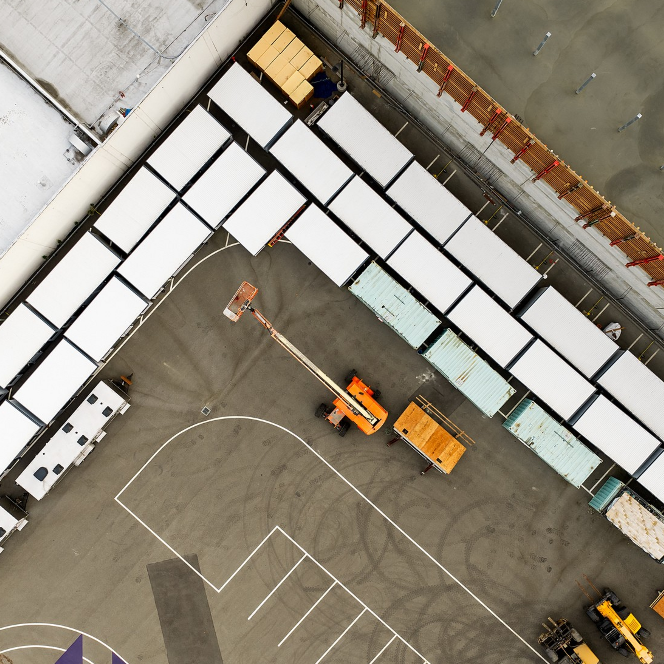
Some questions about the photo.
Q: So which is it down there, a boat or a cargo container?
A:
cargo container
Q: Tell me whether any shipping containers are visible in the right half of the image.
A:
Yes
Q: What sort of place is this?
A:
industrial area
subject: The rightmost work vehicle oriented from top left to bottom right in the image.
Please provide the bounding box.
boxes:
[575,575,653,664]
